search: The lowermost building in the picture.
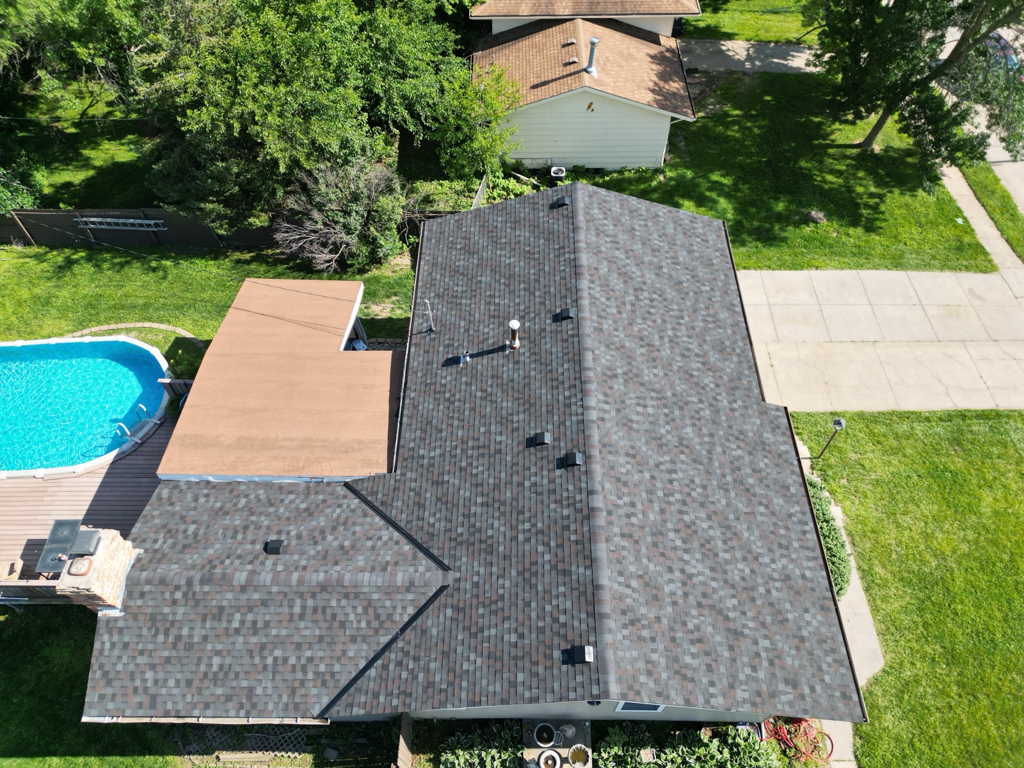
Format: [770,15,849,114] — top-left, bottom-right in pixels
[60,181,868,725]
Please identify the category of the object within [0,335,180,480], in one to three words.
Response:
swimming pool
